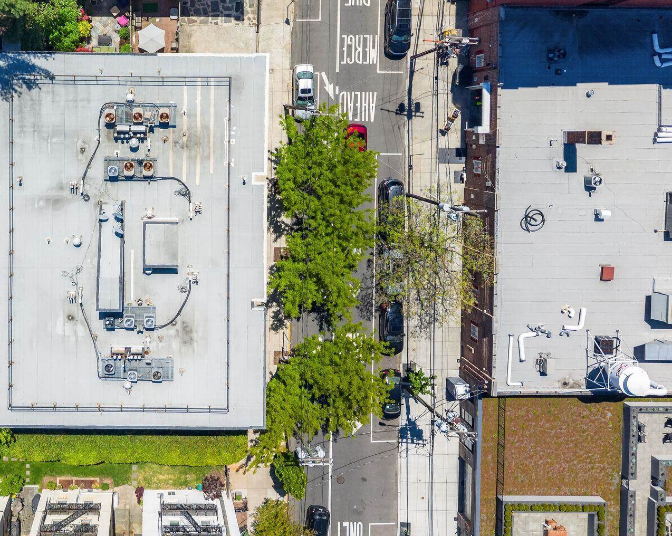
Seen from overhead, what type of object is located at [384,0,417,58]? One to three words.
car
